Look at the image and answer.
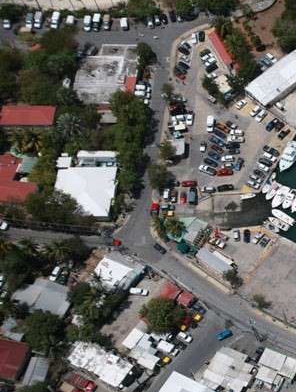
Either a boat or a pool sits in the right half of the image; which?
boat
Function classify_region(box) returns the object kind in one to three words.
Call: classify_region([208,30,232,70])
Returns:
shed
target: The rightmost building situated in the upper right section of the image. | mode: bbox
[245,49,296,111]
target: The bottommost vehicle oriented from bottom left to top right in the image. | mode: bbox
[270,375,285,392]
